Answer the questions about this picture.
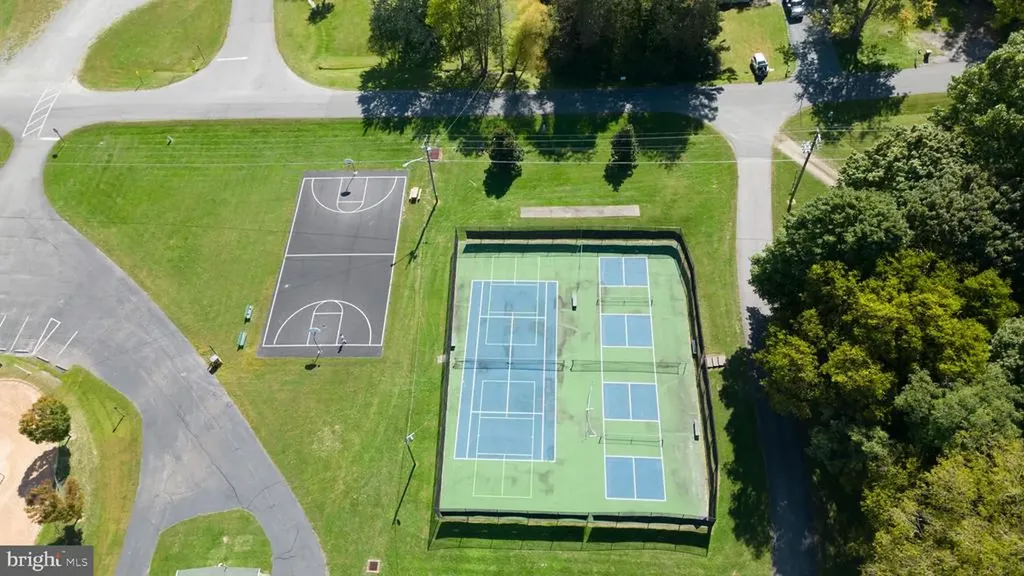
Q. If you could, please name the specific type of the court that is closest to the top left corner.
basketball court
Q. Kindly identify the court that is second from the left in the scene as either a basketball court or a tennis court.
tennis court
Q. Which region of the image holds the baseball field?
bottom left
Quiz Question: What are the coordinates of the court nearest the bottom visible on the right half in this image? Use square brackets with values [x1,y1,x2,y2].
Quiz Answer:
[602,382,666,501]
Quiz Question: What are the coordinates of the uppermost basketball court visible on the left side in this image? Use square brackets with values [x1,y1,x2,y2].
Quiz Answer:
[257,171,410,357]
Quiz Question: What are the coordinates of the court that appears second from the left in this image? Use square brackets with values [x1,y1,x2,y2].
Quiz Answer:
[454,255,558,498]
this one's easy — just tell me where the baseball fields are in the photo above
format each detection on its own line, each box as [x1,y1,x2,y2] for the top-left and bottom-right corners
[0,378,64,576]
